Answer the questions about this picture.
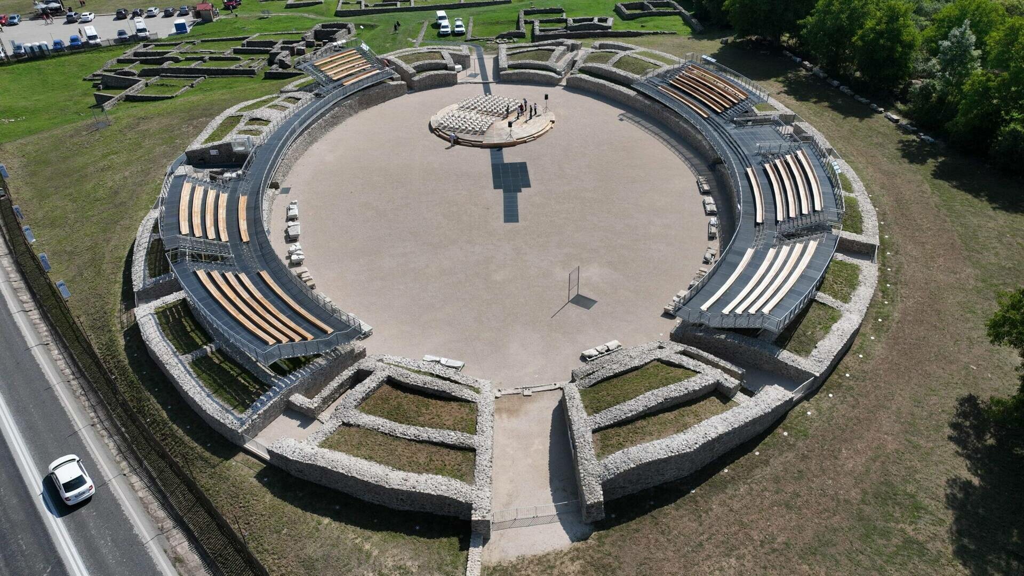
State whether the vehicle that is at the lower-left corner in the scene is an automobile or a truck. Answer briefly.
automobile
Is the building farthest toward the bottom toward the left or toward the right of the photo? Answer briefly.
left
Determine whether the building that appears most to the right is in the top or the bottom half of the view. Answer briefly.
top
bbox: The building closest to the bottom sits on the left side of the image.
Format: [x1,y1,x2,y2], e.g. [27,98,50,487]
[93,74,207,116]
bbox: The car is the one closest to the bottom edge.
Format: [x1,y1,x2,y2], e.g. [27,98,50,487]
[47,456,98,511]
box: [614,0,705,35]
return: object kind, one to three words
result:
building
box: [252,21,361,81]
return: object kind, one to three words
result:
building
